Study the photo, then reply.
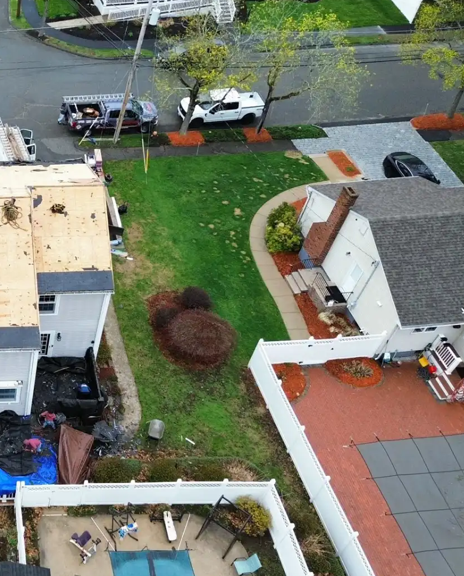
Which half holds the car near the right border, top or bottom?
top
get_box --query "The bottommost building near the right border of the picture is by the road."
[284,174,464,369]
